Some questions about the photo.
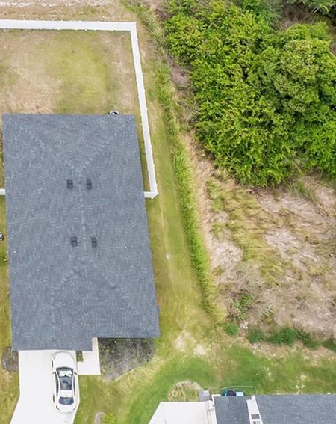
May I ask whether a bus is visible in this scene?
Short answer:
No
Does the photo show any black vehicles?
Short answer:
No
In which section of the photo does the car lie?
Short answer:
bottom left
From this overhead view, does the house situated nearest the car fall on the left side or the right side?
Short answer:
left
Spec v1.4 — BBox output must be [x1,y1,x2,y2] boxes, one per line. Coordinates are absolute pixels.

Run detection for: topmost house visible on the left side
[0,113,161,352]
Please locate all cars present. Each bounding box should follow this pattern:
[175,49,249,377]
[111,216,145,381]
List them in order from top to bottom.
[51,350,79,413]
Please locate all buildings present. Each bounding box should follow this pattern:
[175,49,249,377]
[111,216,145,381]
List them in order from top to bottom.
[0,113,161,352]
[203,394,336,424]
